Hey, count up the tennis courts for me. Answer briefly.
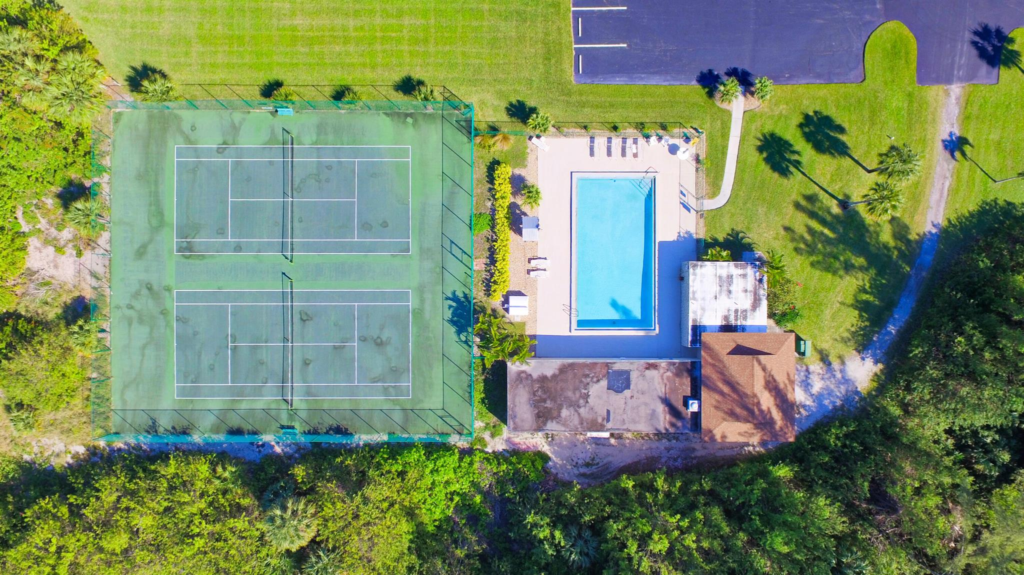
2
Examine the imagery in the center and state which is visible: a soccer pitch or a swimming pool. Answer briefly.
swimming pool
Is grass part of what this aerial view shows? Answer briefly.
Yes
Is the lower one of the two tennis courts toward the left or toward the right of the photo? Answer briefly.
left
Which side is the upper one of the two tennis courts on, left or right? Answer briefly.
left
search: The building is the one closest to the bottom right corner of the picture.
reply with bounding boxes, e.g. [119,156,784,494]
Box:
[695,333,796,442]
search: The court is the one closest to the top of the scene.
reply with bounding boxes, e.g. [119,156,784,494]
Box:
[174,145,411,254]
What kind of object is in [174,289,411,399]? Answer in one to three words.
tennis court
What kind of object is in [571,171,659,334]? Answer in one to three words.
swimming pool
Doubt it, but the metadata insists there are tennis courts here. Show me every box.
[174,289,411,399]
[174,145,411,254]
